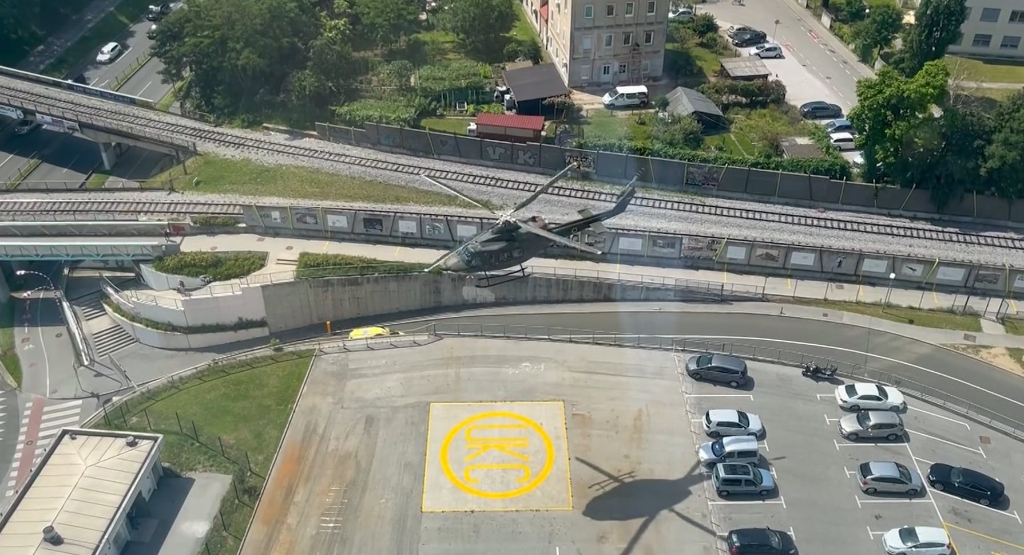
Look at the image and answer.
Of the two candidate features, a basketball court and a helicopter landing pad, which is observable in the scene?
helicopter landing pad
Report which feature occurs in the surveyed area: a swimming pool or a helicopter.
helicopter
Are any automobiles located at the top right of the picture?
Yes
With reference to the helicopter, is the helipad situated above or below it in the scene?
below it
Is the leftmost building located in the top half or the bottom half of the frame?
bottom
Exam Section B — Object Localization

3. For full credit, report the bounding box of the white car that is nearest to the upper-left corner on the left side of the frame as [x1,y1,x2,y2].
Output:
[95,41,122,64]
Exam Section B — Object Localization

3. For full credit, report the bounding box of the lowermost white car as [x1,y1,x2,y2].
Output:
[879,525,954,555]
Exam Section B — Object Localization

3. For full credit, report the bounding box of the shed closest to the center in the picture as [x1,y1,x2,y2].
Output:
[475,113,545,143]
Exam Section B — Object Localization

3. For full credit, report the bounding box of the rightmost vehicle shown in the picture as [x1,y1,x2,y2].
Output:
[926,462,1007,506]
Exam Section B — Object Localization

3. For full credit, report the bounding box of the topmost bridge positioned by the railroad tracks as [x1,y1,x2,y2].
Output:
[0,64,197,170]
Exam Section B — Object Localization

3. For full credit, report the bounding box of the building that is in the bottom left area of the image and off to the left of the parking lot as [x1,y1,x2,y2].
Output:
[0,425,167,555]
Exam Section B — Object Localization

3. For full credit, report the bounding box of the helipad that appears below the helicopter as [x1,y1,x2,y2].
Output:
[422,400,573,511]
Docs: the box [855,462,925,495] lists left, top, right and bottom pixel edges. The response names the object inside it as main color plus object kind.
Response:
gray car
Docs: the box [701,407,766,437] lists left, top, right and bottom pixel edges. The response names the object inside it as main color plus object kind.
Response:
white car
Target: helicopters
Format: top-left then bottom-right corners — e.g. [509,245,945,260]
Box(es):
[415,156,640,290]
